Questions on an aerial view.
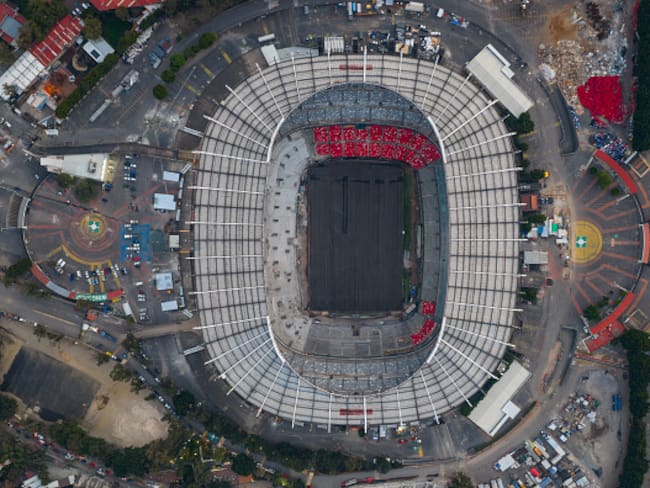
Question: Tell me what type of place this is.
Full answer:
This looks like a sports ground.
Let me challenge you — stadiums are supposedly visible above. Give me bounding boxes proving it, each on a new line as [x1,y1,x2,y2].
[185,46,527,433]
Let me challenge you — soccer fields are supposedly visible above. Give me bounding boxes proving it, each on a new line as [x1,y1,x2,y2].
[307,160,410,311]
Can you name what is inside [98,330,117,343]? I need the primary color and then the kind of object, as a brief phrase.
blue vehicle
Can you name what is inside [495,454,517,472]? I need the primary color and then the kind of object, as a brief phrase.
white vehicle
